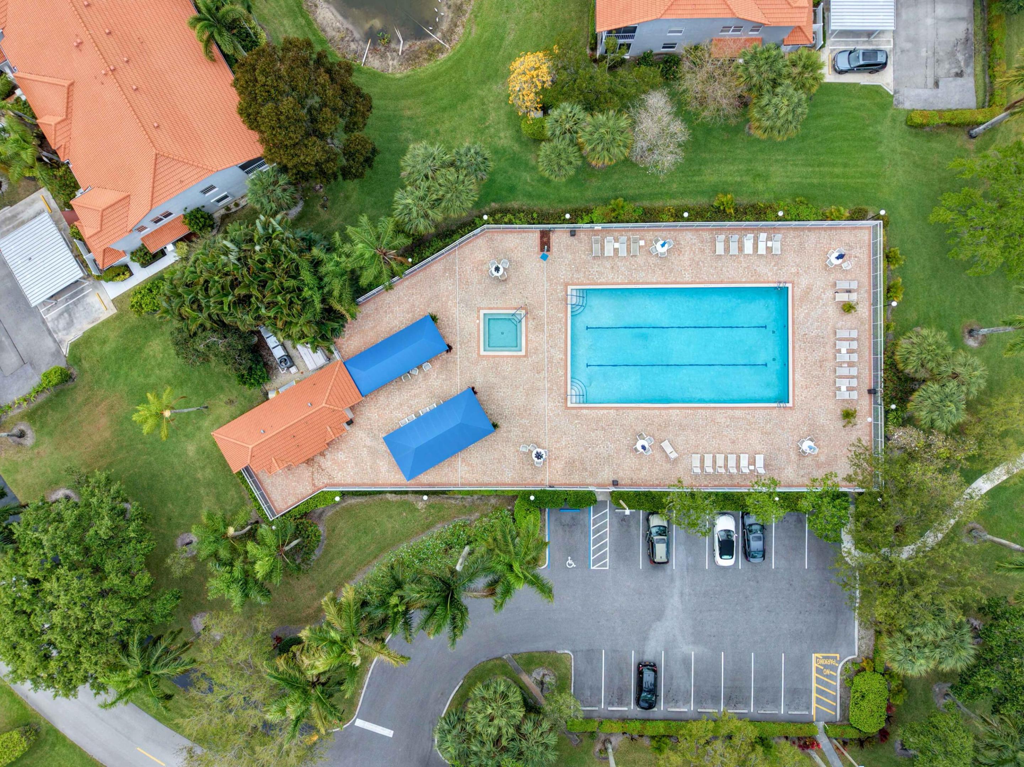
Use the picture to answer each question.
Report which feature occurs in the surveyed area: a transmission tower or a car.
car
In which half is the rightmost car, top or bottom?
top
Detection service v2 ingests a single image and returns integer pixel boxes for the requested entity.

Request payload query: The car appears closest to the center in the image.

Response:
[639,514,672,566]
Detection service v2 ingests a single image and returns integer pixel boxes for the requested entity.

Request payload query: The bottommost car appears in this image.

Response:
[636,662,659,710]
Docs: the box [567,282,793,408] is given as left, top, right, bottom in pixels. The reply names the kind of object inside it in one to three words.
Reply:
swimming pool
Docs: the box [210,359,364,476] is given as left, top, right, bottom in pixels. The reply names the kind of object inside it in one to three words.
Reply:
building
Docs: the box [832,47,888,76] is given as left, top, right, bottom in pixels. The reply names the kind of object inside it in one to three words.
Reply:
car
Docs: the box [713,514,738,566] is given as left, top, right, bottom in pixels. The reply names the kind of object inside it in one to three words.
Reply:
car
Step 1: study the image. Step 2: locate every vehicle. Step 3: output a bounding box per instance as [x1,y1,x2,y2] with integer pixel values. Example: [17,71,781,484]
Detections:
[832,47,888,76]
[742,513,768,564]
[713,514,738,566]
[639,514,672,566]
[636,662,659,710]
